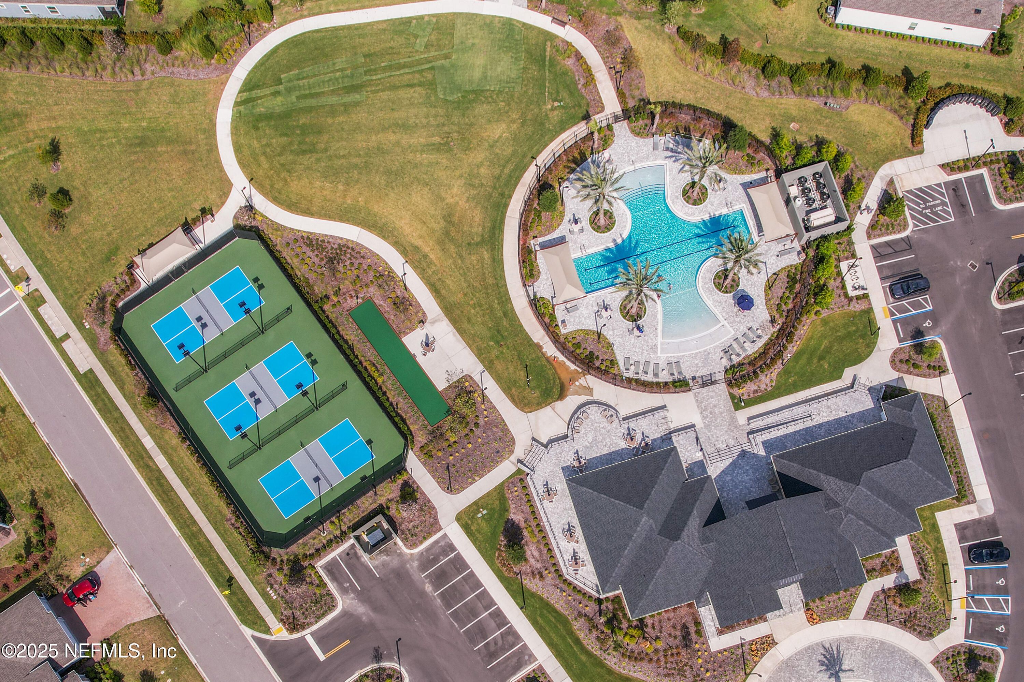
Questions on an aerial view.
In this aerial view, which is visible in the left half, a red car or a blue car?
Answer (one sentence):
The feature located in the left half is a red car.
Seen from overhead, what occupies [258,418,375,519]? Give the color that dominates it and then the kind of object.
blue sports court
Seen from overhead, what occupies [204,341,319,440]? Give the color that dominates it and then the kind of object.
blue sports court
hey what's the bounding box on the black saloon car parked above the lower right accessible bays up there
[968,546,1012,565]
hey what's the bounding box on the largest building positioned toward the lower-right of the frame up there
[565,392,959,629]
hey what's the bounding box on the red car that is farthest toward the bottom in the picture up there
[61,577,101,608]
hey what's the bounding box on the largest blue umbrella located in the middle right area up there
[737,294,754,311]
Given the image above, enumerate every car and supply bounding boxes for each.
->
[968,546,1012,565]
[61,577,101,608]
[889,275,931,298]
